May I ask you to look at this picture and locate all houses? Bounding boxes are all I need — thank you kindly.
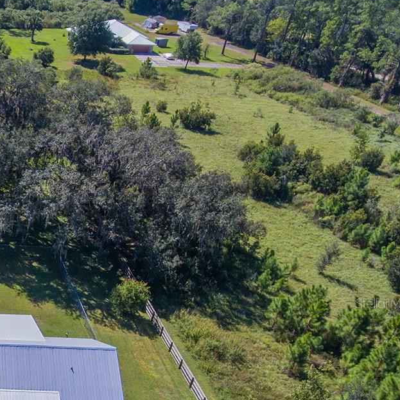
[0,314,127,400]
[62,18,160,54]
